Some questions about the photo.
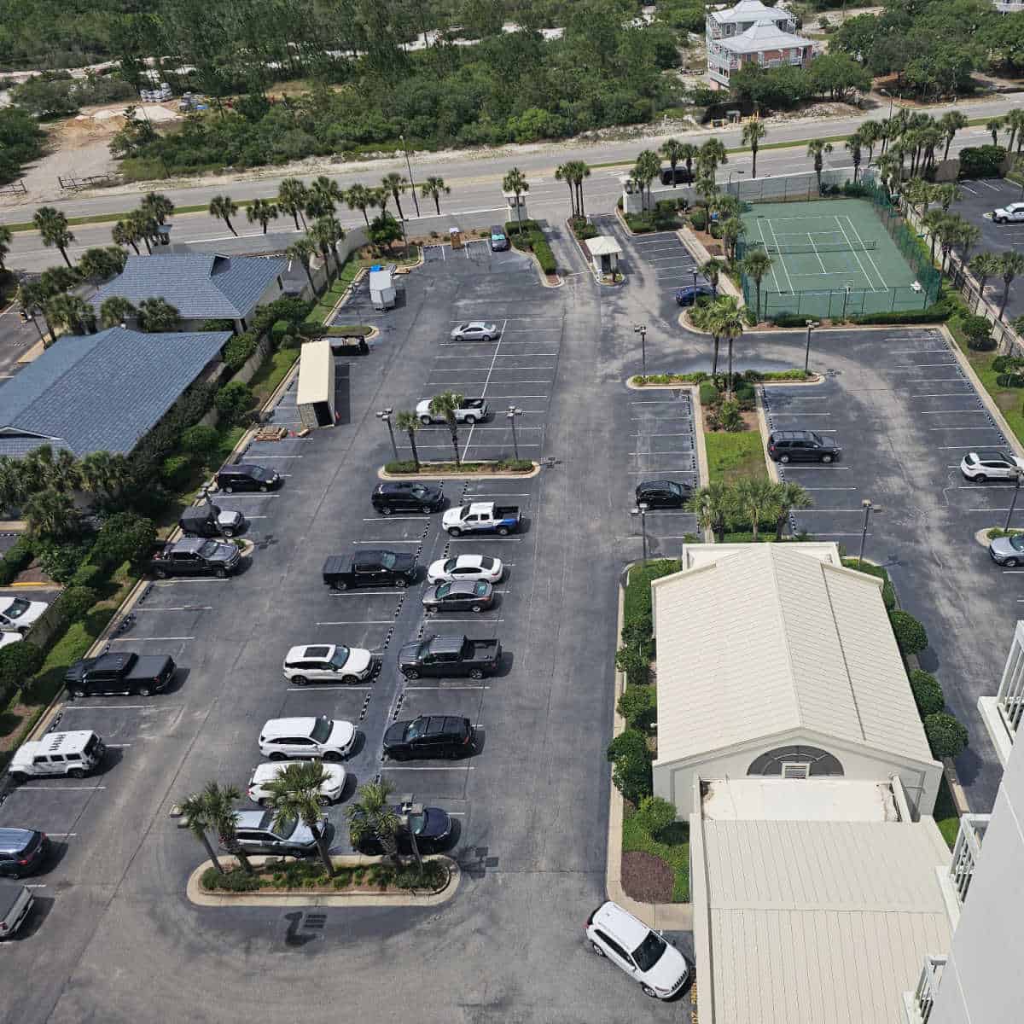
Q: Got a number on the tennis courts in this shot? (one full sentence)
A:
Just 1 tennis court appears in this view.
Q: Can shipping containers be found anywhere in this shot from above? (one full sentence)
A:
Yes, a shipping container appears in the view.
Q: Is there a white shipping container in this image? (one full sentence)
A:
Yes, you can see a white shipping container in this photo.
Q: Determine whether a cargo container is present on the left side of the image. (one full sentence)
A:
Yes, a cargo container is visible on the left side of the image.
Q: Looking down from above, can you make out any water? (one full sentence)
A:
No, water can't be seen anywhere here.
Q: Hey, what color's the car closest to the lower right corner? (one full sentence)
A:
In this view, the car closest to the lower right corner is white.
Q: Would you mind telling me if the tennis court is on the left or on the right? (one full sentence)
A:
The tennis court sits on the right side.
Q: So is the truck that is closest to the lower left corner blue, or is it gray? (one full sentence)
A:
In this view, the truck that is closest to the lower left corner is gray.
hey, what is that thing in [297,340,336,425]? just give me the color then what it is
white shipping container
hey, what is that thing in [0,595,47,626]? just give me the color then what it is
white car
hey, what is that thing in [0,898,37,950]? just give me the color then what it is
gray truck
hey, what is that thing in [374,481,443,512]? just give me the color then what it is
black car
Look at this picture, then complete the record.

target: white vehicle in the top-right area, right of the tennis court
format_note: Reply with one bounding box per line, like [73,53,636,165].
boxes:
[990,201,1024,224]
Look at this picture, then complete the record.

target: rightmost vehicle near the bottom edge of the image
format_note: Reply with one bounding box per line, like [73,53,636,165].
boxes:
[582,903,691,1000]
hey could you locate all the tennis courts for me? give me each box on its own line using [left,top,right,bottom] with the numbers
[740,198,933,317]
